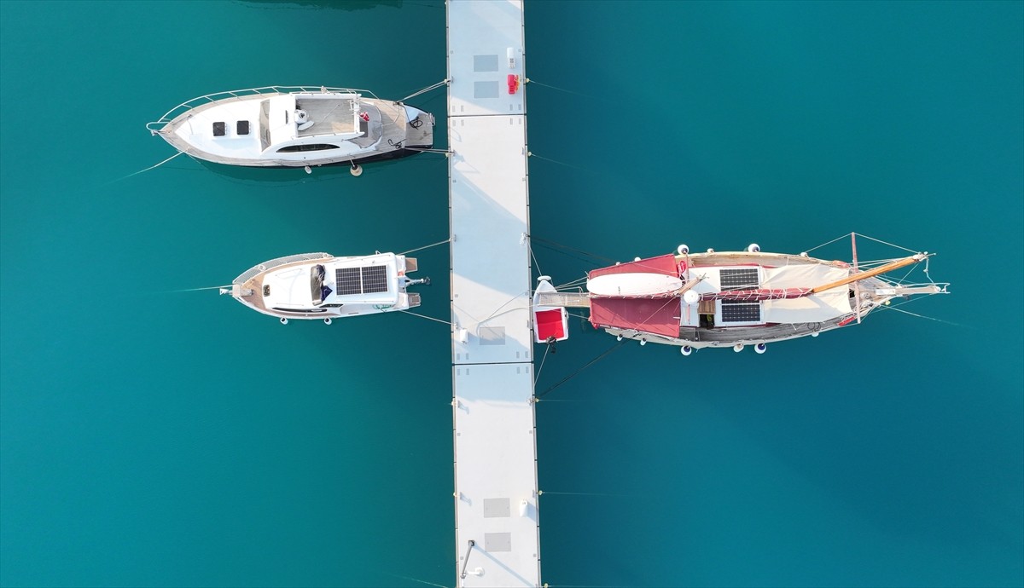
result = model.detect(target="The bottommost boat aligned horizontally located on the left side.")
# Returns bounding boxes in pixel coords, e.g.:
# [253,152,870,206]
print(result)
[220,251,430,322]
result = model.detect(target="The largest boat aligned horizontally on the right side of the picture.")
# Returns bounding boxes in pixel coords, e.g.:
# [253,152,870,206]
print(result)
[585,233,950,348]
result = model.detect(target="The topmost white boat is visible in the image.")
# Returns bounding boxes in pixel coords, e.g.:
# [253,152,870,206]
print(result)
[146,85,435,174]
